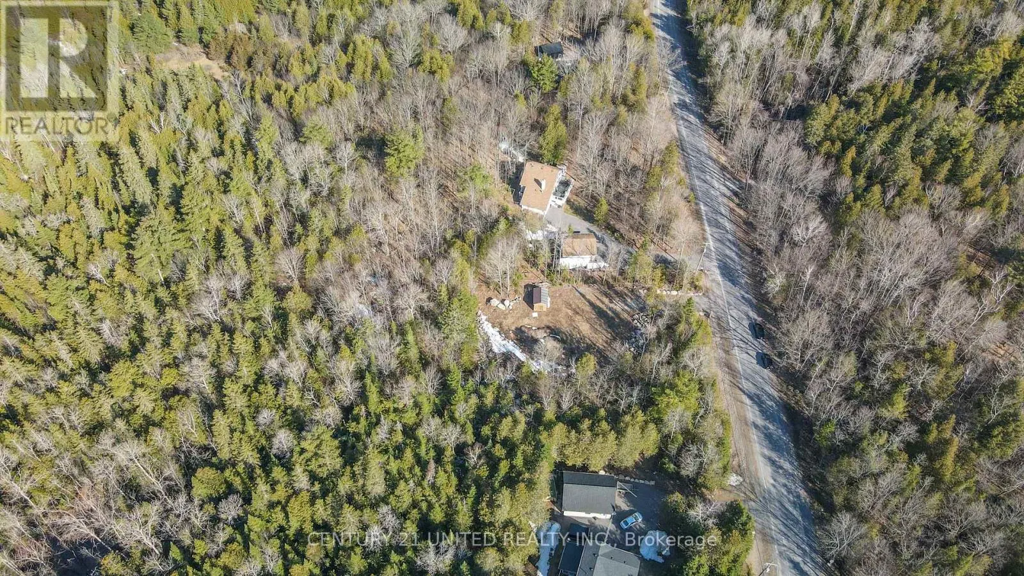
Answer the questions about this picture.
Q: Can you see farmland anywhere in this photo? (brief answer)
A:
No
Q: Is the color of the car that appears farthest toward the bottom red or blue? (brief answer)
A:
blue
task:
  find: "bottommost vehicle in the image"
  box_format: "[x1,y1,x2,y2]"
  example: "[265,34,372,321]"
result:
[617,510,644,531]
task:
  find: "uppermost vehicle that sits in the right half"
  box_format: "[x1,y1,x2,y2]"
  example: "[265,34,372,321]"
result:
[752,322,766,340]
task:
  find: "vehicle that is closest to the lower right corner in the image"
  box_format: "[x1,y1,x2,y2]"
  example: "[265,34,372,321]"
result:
[760,350,775,369]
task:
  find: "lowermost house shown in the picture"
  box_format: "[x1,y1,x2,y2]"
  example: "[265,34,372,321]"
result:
[557,539,643,576]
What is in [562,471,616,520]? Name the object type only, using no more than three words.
building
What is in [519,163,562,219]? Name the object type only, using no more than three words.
house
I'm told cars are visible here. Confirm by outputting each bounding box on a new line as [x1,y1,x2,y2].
[752,322,766,340]
[760,350,775,369]
[617,510,644,531]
